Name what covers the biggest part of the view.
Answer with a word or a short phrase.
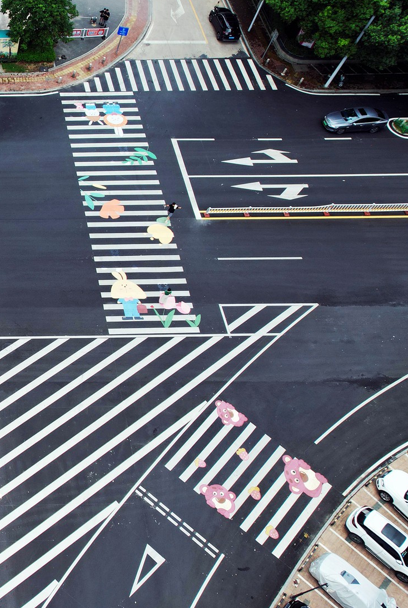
paved ground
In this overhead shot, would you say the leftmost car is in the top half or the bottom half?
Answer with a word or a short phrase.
top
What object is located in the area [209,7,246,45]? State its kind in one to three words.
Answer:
car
